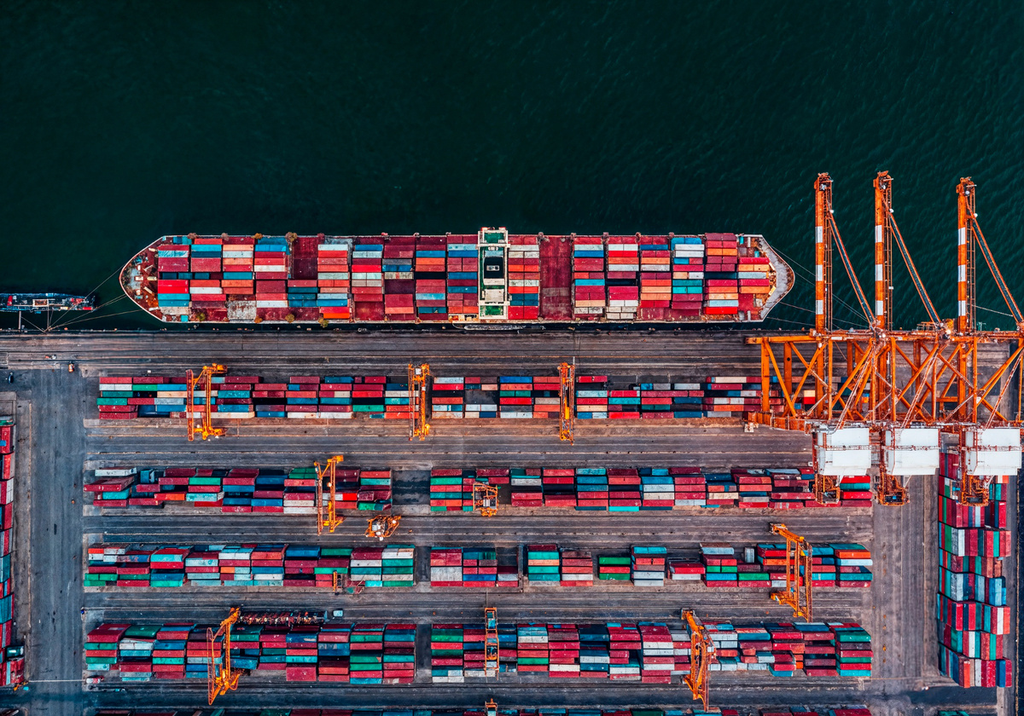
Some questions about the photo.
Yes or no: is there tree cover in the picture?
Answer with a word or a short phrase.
No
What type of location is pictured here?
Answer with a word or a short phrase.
port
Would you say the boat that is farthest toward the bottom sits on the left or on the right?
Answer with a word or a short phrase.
left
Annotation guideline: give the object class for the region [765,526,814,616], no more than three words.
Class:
crane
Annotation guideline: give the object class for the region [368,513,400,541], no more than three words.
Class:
work vehicle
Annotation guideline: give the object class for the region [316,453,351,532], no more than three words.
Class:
crane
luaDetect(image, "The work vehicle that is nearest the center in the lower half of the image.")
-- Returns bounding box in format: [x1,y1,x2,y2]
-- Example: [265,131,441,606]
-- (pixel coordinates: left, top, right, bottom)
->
[473,476,500,514]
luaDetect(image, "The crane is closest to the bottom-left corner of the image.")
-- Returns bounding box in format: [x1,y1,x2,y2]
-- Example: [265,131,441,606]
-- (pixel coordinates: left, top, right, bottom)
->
[204,611,253,707]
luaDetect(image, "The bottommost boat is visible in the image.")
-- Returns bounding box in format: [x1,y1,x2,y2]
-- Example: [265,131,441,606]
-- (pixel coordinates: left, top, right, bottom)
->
[0,293,98,330]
